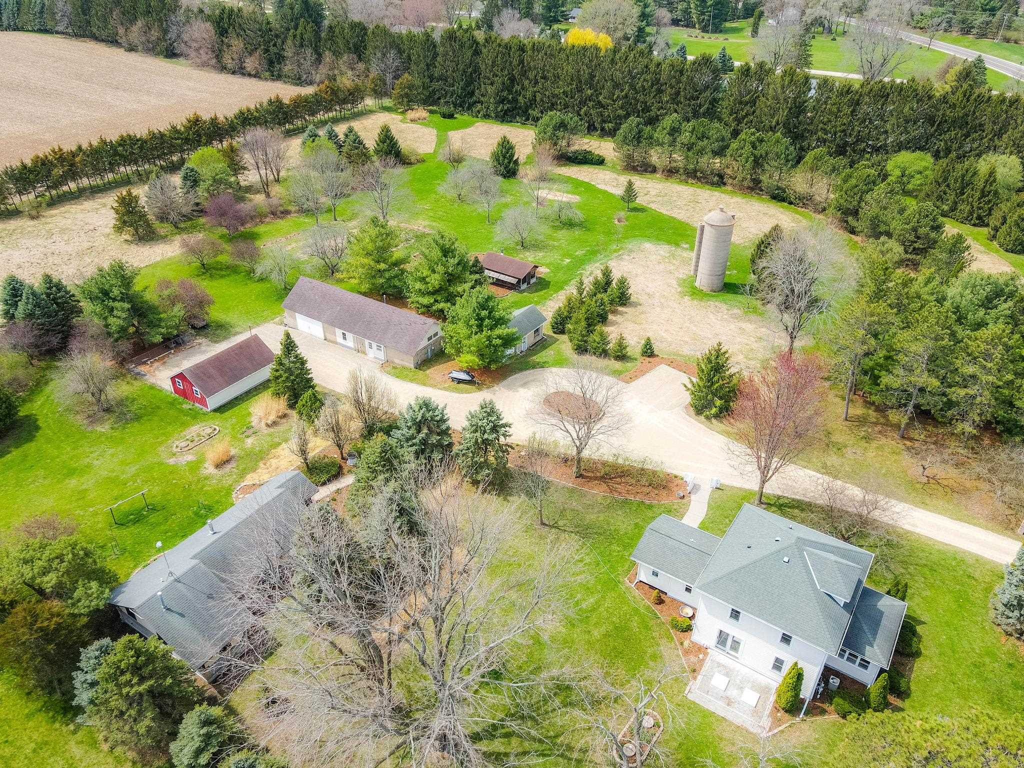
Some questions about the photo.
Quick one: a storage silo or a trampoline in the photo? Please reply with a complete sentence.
It is a storage silo that can be seen here.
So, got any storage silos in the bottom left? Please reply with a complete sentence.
No, the scene shows no storage silo in the bottom left.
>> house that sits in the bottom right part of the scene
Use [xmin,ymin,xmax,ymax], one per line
[630,502,910,726]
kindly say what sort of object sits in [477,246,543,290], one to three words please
shed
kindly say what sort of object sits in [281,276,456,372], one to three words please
building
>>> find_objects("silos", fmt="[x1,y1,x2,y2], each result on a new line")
[690,205,741,292]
